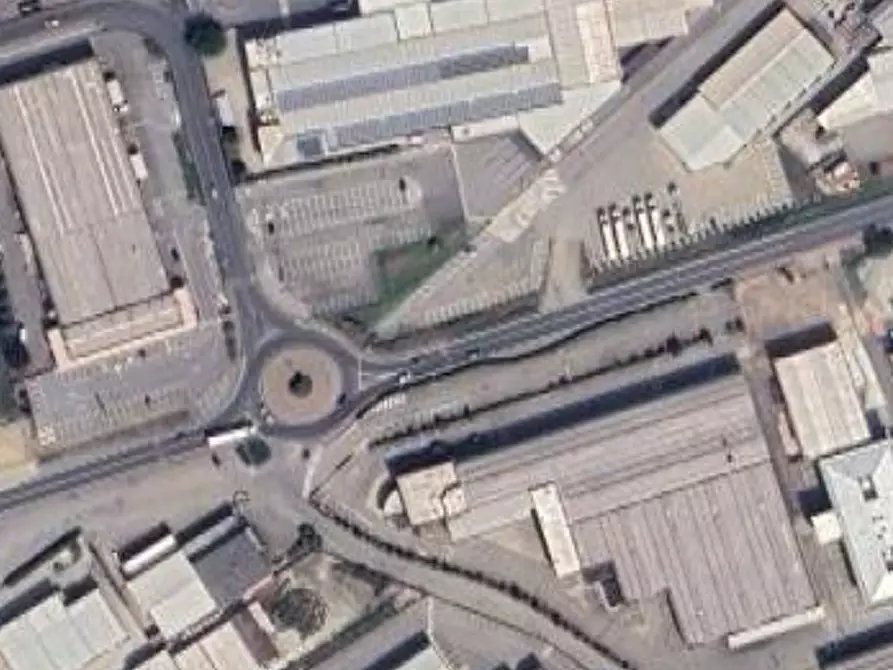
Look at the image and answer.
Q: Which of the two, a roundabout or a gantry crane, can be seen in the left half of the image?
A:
roundabout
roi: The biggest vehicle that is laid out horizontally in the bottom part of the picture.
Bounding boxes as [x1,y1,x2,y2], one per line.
[207,425,255,444]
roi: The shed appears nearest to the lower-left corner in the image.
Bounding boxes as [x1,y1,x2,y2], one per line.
[0,587,134,670]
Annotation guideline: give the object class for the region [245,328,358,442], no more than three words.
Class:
roundabout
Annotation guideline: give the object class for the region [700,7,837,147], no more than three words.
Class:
shed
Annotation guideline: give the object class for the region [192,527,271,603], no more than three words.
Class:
building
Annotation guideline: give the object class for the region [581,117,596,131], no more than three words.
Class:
vehicle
